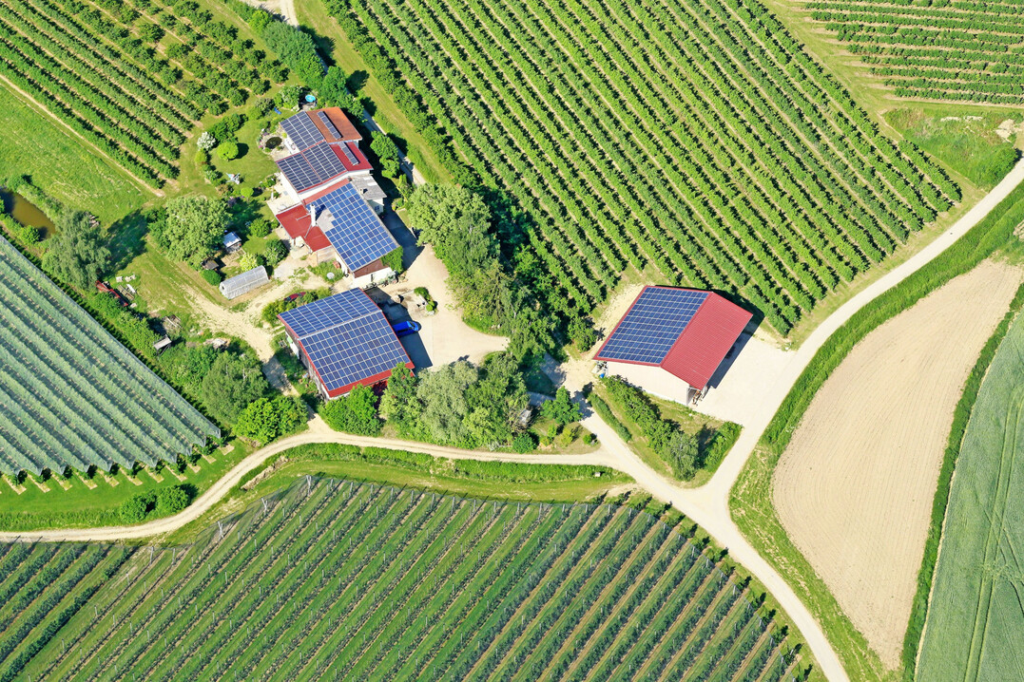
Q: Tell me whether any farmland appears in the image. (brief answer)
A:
Yes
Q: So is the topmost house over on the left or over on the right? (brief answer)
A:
left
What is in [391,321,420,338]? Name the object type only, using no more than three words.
vehicle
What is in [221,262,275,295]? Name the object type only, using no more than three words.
greenhouse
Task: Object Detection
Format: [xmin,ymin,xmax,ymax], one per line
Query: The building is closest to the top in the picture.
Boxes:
[278,105,359,152]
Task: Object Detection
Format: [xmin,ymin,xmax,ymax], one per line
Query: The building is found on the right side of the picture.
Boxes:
[593,285,752,407]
